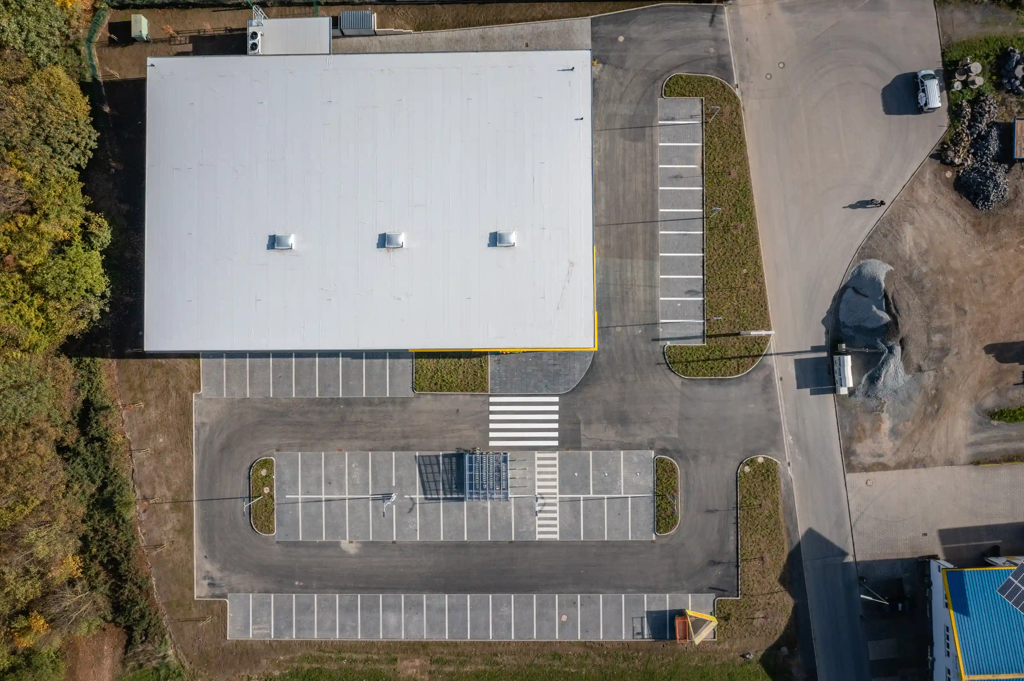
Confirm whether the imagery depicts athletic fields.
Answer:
No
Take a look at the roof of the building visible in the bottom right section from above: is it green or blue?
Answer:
blue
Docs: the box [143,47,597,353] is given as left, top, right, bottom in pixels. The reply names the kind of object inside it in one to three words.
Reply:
building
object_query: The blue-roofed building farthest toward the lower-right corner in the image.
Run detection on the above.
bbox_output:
[933,560,1024,681]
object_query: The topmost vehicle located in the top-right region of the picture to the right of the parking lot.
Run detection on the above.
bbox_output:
[916,73,942,114]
